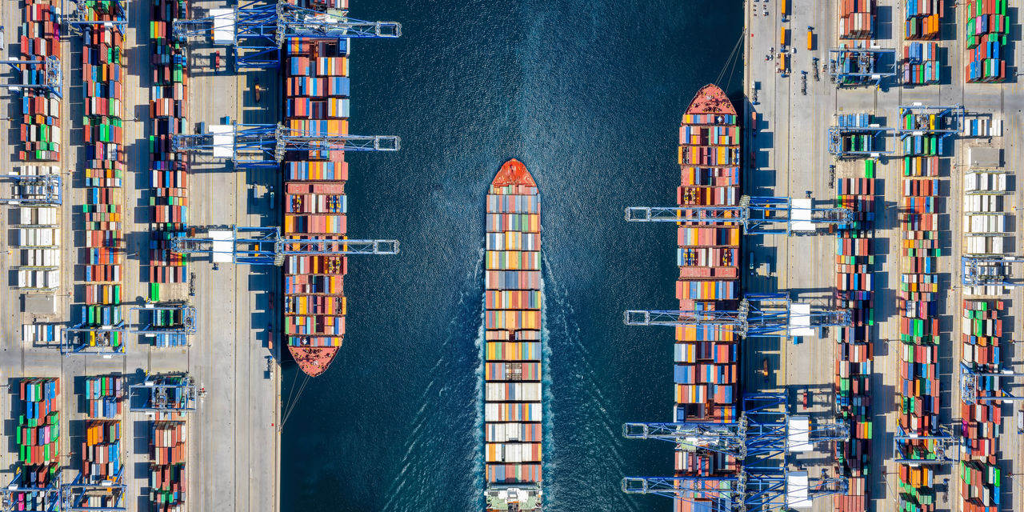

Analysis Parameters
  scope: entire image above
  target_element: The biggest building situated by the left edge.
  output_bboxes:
[26,294,59,313]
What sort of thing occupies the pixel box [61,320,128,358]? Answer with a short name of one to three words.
crane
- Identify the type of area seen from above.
port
